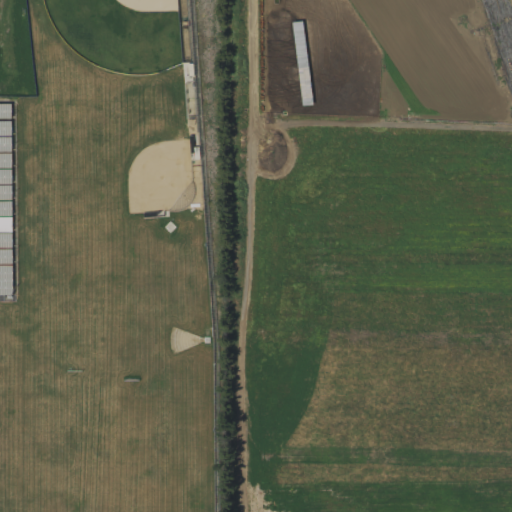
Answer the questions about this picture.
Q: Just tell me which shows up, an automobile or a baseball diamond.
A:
baseball diamond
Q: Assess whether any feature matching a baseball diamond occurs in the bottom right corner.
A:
No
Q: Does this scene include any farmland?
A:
Yes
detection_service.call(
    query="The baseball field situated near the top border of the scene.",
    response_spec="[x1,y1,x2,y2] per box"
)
[45,0,183,74]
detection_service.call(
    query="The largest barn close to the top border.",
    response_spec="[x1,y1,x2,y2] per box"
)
[293,20,313,105]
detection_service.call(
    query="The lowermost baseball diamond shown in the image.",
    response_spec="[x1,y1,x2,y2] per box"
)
[129,139,196,214]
